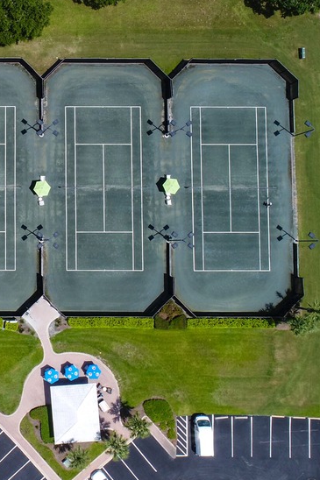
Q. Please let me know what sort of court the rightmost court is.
tennis court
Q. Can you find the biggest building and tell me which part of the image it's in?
bottom left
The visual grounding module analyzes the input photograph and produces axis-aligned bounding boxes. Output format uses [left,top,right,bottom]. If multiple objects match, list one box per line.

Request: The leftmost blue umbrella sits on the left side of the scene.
[45,368,59,384]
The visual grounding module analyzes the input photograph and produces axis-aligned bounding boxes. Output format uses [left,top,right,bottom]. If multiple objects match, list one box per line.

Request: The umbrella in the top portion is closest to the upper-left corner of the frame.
[34,180,50,197]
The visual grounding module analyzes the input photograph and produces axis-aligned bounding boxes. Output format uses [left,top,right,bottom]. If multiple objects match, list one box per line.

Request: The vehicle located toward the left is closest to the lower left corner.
[93,468,112,480]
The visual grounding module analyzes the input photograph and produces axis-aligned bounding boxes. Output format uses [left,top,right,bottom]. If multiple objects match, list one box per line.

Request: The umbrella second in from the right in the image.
[87,366,101,379]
